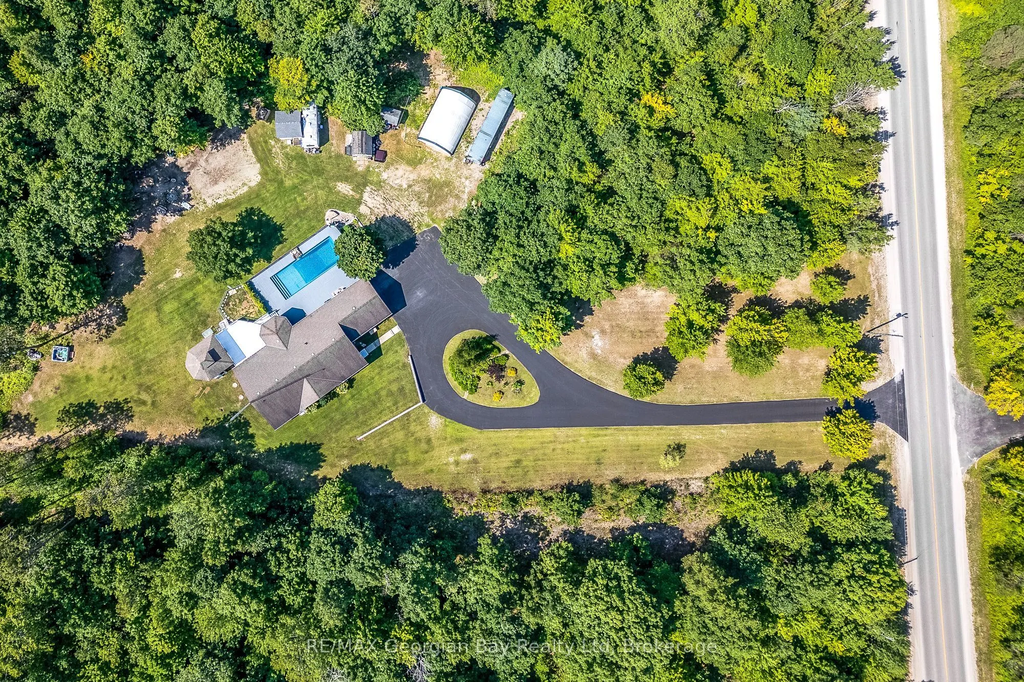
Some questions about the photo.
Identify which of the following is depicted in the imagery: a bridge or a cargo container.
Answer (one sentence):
I can see a cargo container in this picture.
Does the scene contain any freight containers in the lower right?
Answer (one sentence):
No, there's no freight container to be seen in the lower right.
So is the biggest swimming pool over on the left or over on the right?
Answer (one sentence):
The biggest swimming pool sits on the left side.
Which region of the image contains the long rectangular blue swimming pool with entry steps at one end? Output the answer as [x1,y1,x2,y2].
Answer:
[268,234,341,303]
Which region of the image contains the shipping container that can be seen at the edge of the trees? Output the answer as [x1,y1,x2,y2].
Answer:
[467,89,514,165]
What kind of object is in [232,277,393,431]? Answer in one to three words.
house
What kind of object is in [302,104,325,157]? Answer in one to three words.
vehicle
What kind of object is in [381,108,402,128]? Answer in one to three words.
shed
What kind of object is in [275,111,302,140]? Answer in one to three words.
shed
